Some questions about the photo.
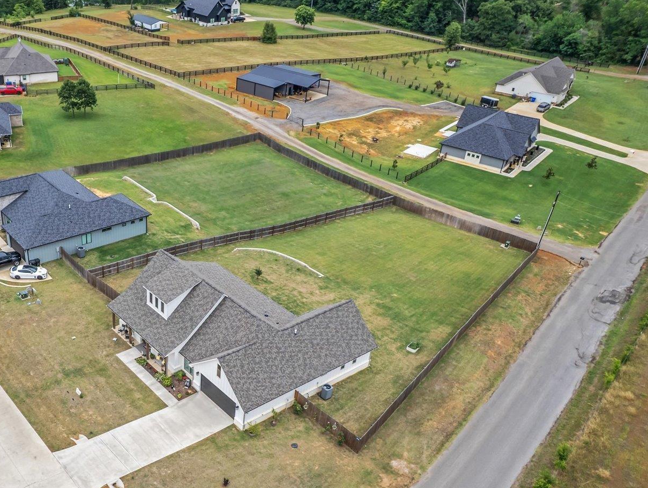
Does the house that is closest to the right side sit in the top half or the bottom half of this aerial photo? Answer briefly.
top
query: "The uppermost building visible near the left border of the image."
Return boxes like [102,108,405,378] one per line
[0,36,60,85]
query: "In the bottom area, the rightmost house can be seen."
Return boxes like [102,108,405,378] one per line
[104,248,379,430]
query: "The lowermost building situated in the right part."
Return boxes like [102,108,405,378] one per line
[438,104,545,175]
